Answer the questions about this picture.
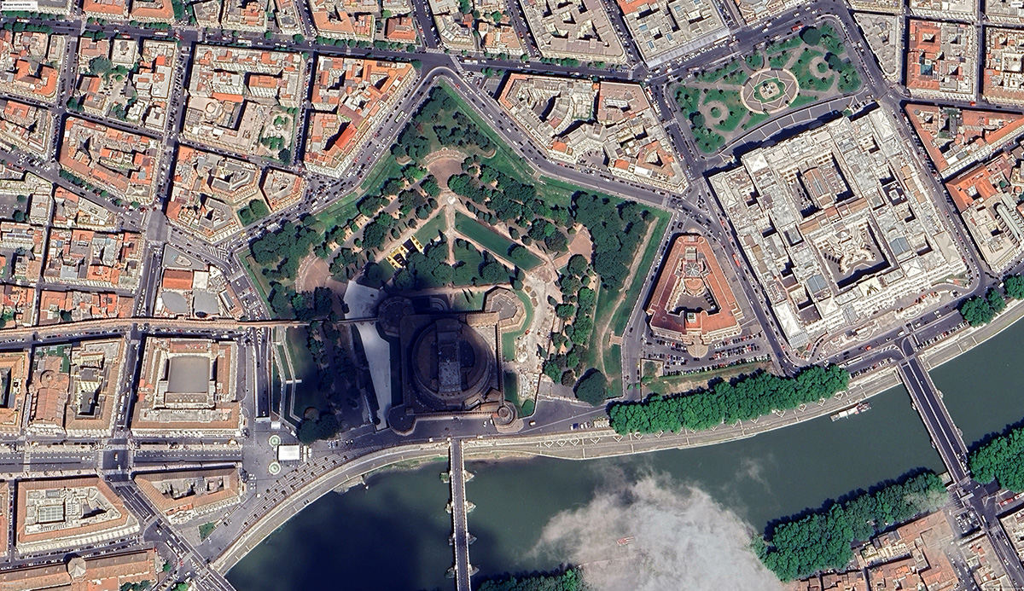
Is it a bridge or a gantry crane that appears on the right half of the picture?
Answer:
bridge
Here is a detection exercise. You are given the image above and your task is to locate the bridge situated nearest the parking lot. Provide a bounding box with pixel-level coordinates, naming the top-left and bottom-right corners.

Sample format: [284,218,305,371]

[895,357,972,487]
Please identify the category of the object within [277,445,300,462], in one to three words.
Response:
tent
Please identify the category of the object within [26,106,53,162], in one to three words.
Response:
building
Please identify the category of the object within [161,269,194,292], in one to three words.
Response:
building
